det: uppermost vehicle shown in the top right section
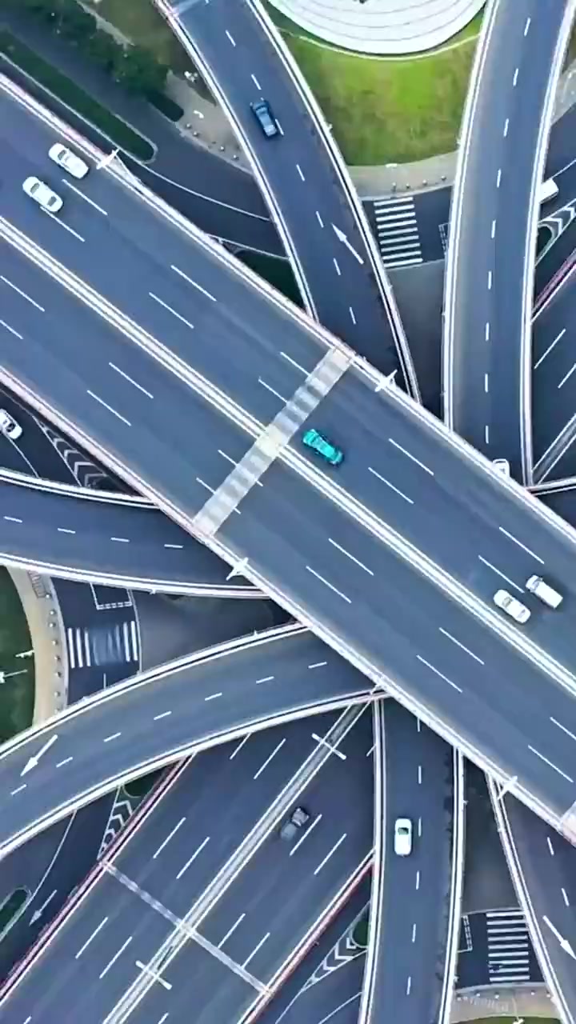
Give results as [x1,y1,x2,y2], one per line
[542,180,557,202]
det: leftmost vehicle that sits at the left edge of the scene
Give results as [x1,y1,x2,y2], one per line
[0,403,24,438]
